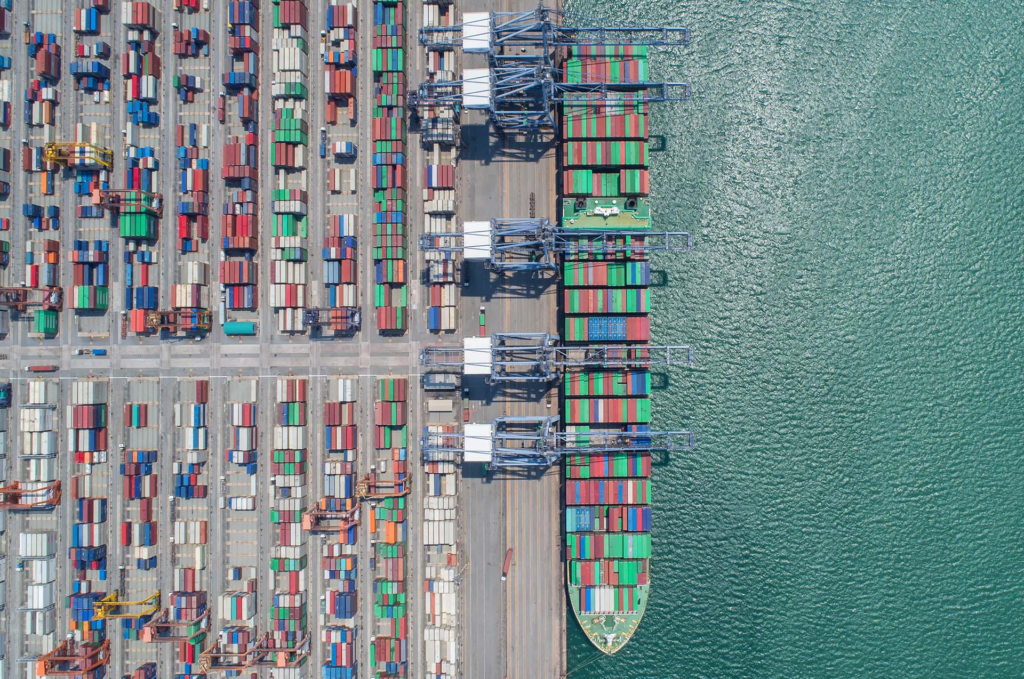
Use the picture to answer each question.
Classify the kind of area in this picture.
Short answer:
port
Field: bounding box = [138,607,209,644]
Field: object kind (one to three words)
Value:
crane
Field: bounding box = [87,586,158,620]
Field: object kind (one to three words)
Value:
crane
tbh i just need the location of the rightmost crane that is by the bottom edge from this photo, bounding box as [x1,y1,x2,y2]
[250,631,309,669]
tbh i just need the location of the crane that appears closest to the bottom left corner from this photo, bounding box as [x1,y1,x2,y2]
[31,639,108,678]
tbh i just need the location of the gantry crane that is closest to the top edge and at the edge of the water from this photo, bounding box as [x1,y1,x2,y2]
[413,0,690,89]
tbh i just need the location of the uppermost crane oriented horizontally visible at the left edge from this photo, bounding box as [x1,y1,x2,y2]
[39,141,111,172]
